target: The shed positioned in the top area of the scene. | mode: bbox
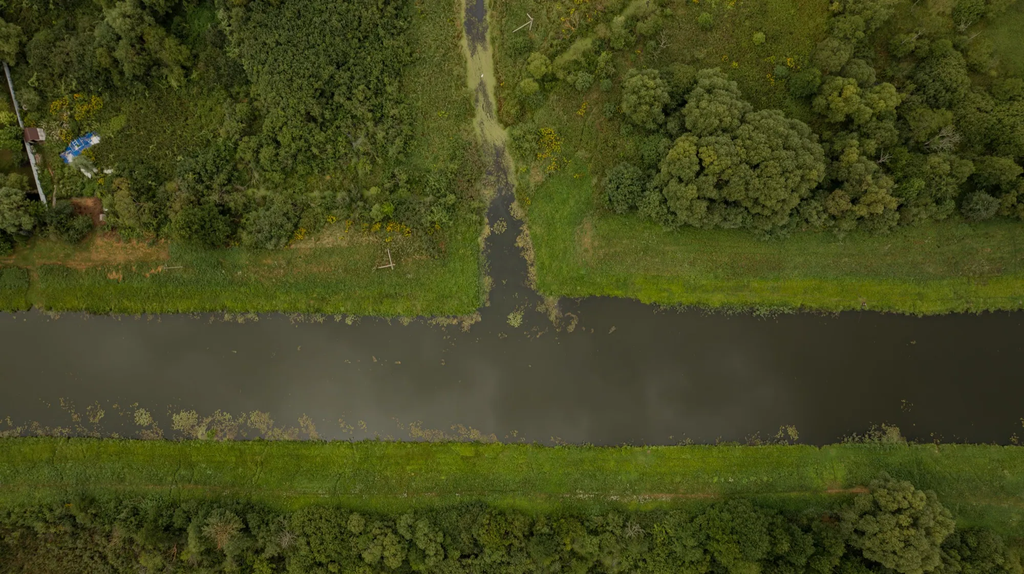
[22,127,53,145]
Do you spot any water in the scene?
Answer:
Yes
